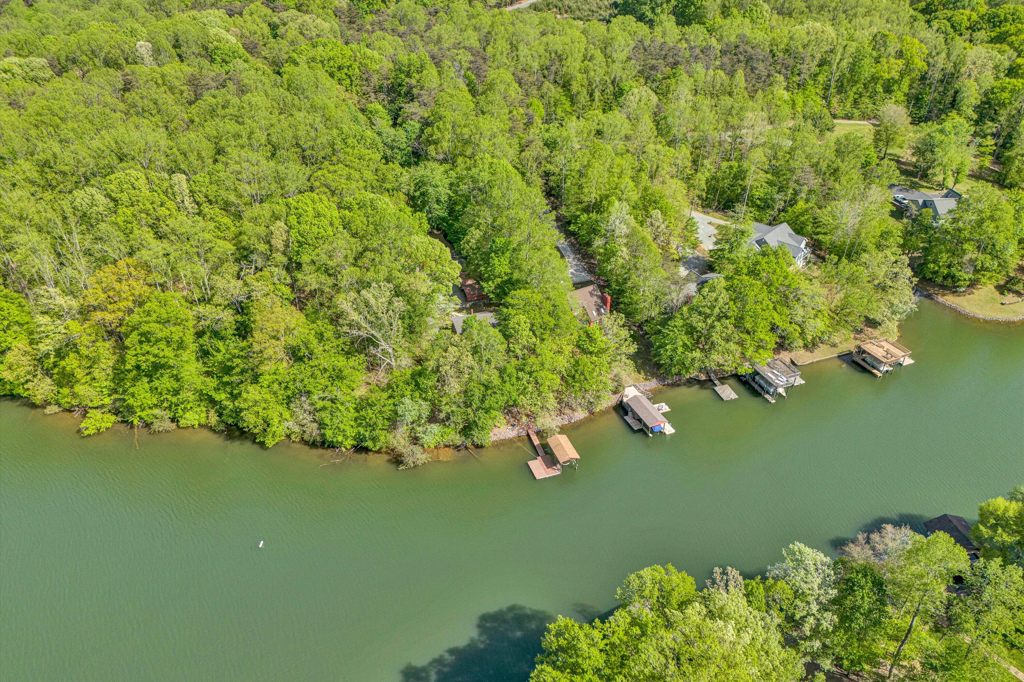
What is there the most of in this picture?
trees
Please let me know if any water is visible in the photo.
Yes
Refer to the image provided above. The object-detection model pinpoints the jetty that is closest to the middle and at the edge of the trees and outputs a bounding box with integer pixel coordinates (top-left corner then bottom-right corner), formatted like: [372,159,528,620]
[525,419,580,481]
